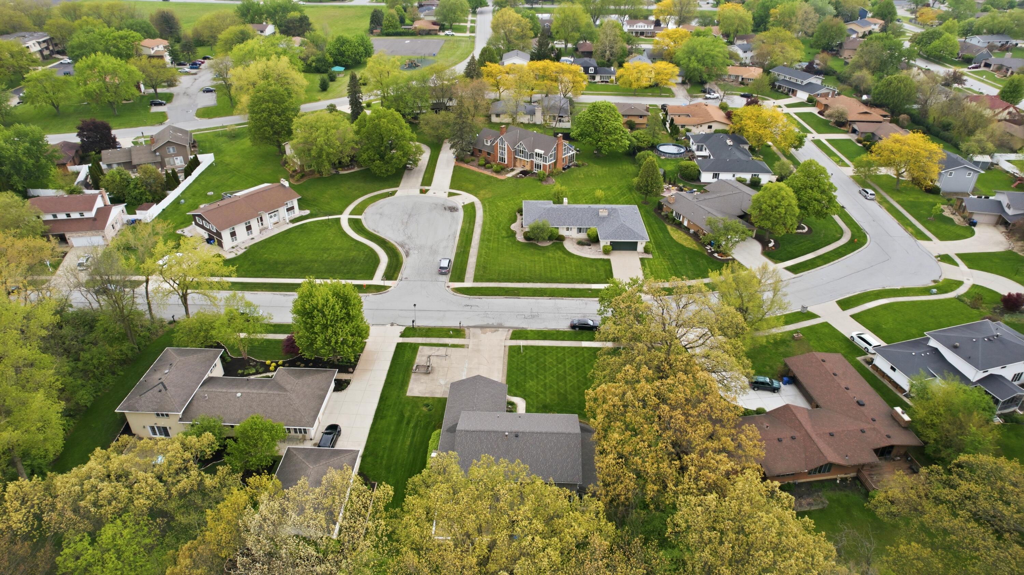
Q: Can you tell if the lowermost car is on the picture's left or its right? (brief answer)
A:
left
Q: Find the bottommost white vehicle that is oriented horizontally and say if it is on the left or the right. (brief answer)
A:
right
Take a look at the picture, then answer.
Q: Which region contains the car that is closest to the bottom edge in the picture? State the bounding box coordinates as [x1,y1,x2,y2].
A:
[315,423,344,448]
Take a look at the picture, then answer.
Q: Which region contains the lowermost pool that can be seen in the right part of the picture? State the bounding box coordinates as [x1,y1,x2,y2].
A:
[654,145,689,163]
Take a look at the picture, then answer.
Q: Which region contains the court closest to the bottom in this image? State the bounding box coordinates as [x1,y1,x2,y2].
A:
[406,346,468,397]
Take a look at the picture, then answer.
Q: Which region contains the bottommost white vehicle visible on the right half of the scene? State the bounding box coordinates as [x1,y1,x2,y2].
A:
[847,333,885,353]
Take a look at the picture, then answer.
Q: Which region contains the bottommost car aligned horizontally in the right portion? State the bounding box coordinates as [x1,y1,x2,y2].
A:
[748,377,783,396]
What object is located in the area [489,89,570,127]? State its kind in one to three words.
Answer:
house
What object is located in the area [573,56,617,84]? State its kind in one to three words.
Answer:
house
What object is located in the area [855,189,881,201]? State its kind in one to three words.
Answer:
vehicle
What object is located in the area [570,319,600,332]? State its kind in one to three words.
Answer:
vehicle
